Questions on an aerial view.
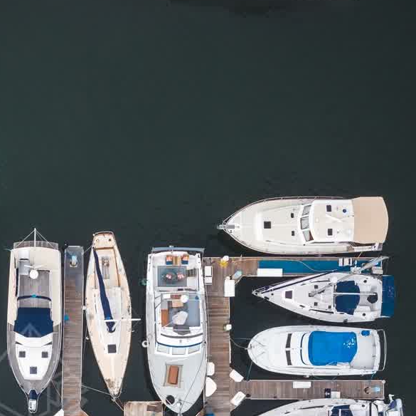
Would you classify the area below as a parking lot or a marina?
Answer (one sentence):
The area seen from above is a marina.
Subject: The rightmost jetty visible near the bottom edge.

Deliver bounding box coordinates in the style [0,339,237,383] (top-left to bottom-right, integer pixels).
[231,379,385,399]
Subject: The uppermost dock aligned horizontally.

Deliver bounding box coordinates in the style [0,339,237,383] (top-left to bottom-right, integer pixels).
[229,257,384,277]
